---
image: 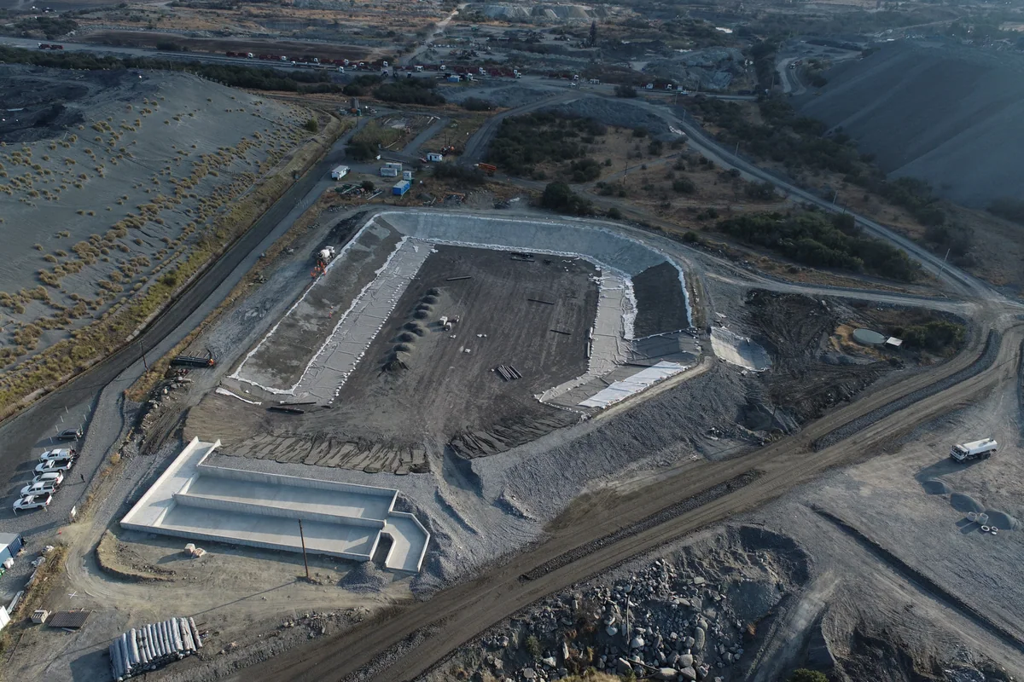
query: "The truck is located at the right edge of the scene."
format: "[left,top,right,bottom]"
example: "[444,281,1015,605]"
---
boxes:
[950,437,1002,464]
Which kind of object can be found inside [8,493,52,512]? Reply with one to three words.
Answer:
vehicle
